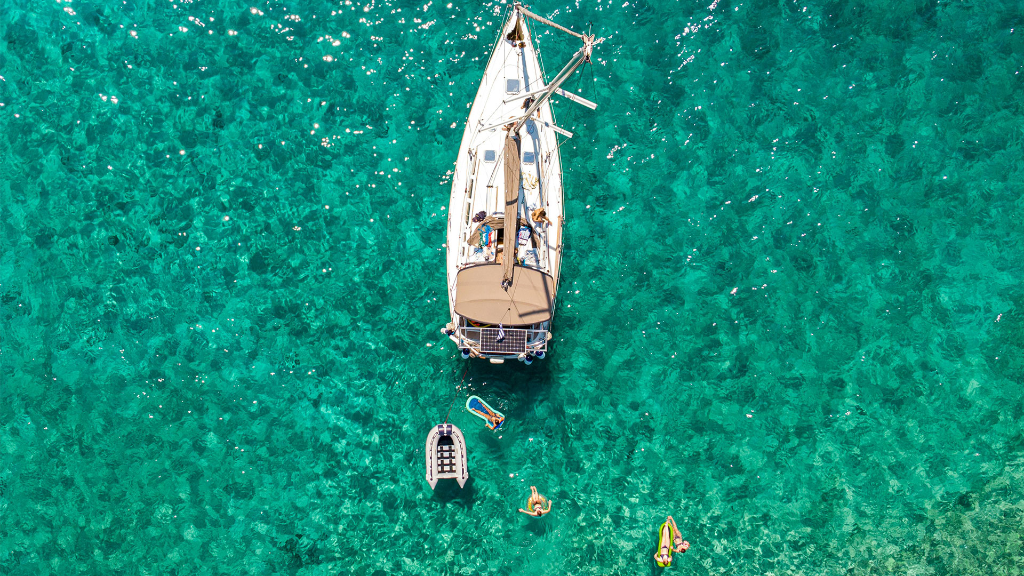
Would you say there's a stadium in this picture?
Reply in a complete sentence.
No, the scene contains no stadium.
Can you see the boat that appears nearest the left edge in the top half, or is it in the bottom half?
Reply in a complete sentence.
It is in the bottom half that the boat that appears nearest the left edge appears.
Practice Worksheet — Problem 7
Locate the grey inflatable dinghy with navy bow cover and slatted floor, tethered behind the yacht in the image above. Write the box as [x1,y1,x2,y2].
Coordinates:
[426,423,468,489]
